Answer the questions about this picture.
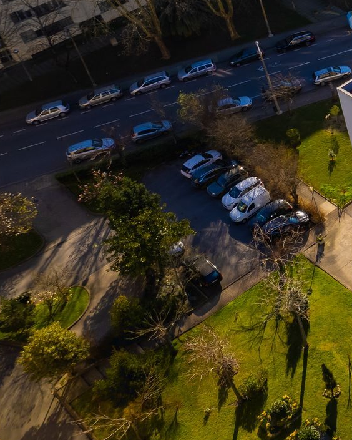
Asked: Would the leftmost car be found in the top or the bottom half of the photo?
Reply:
top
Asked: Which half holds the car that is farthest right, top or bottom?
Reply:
top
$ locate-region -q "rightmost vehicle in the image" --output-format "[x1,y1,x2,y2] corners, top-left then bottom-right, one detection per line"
[312,64,352,85]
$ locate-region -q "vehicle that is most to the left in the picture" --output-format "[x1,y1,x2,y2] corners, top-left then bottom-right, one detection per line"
[28,101,68,124]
